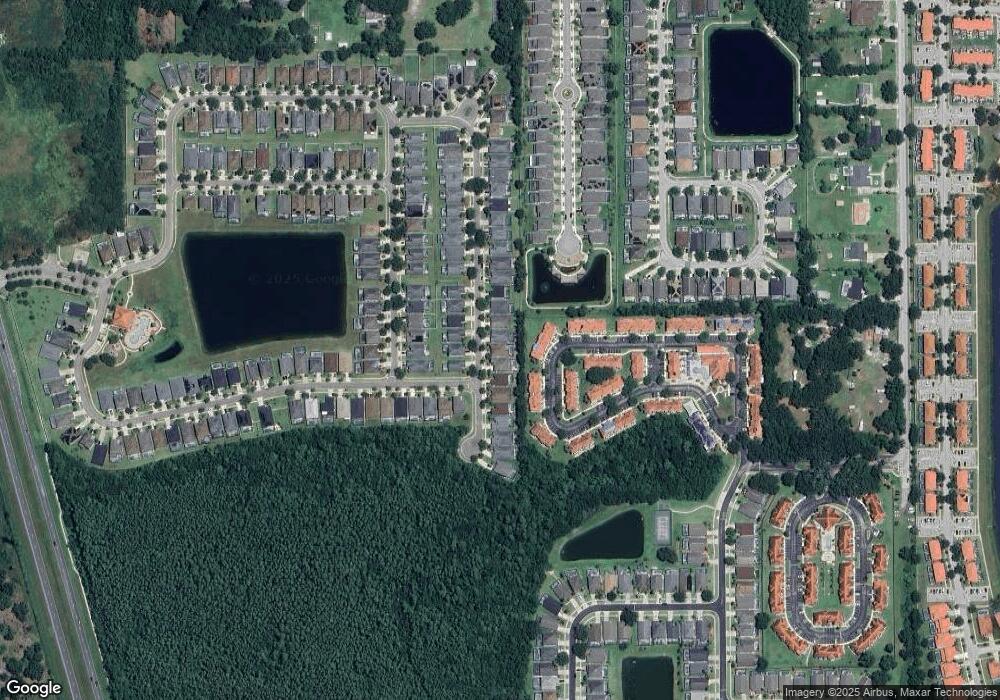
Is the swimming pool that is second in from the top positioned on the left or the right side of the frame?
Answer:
right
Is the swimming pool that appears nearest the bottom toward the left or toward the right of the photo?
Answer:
right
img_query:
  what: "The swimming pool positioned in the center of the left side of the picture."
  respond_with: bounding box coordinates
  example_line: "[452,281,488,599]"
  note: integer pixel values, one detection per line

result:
[124,310,161,350]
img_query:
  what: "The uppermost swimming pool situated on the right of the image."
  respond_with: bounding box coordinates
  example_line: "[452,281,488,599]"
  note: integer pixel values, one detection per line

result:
[688,355,710,381]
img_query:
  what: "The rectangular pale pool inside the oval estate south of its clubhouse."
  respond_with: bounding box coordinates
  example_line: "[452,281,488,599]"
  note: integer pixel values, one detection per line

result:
[817,526,838,564]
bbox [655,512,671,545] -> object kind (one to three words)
sports court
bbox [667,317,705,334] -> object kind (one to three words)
building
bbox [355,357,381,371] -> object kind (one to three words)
house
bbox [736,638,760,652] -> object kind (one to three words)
house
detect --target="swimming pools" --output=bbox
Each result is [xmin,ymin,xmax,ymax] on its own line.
[817,526,838,564]
[688,355,710,381]
[124,310,161,350]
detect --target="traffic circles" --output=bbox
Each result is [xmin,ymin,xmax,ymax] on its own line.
[553,73,581,111]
